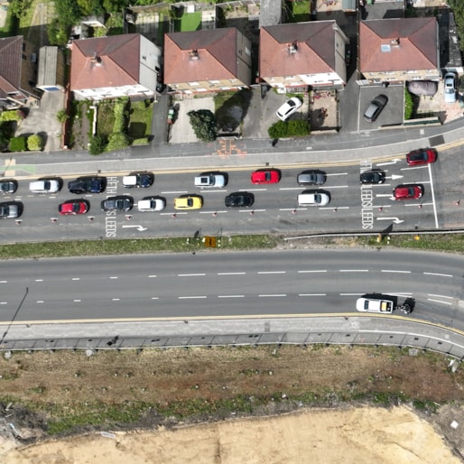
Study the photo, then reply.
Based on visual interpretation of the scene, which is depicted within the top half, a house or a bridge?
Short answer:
house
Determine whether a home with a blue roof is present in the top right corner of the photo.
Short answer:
No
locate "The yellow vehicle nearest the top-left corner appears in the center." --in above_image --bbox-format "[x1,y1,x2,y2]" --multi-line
[174,195,204,211]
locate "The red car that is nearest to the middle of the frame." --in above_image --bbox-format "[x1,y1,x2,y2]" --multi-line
[251,169,281,184]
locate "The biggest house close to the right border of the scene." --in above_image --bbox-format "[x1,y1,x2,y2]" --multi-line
[359,17,441,86]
